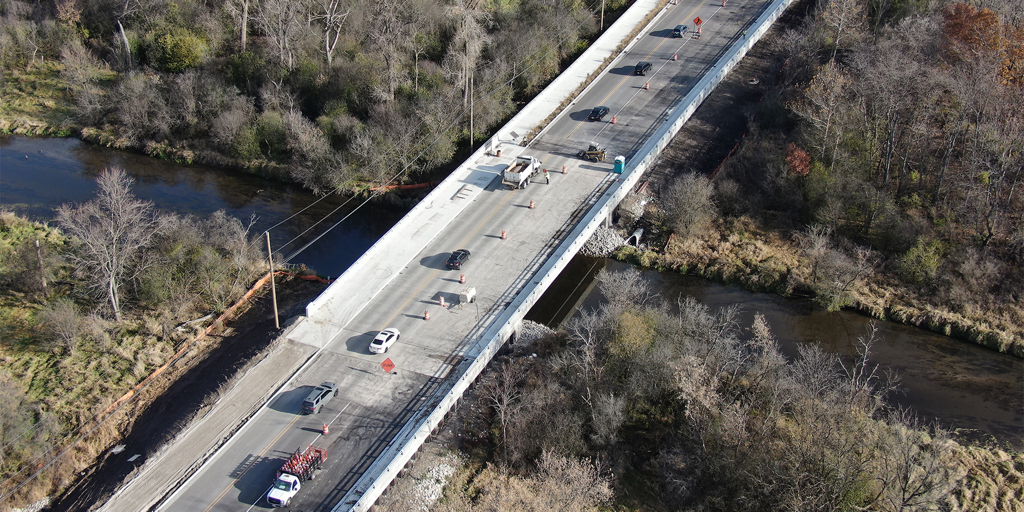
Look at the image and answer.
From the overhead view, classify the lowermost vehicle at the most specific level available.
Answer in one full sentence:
I'd say the lowermost vehicle is a truck.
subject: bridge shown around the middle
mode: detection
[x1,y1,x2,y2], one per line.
[285,0,791,512]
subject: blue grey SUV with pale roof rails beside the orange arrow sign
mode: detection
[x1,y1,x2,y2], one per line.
[671,22,690,38]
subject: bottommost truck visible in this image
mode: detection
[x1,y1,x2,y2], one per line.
[263,442,327,511]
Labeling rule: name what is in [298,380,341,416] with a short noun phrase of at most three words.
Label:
car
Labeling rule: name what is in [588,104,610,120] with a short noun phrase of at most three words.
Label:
car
